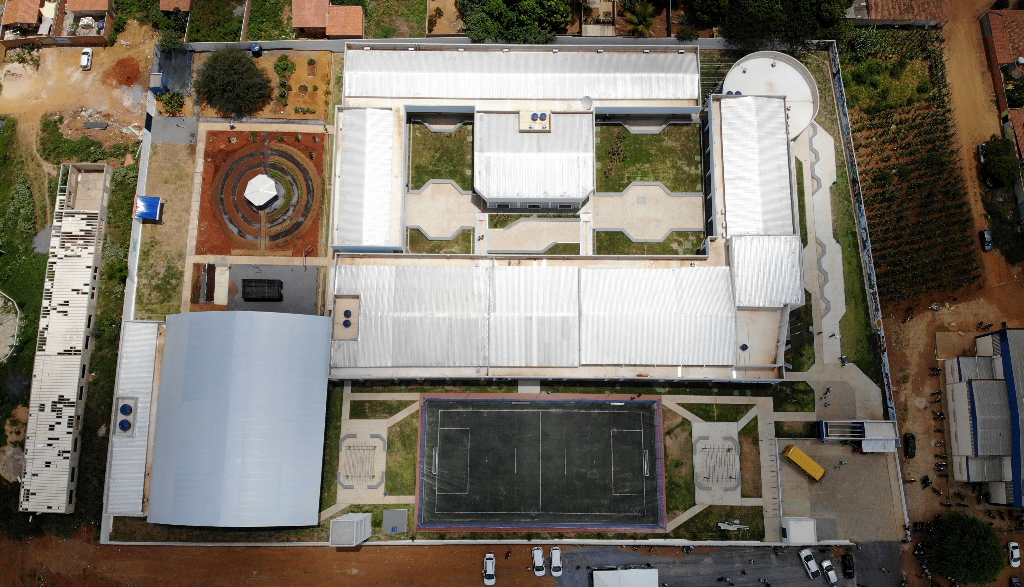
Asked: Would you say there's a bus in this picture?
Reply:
Yes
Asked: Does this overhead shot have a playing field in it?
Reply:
Yes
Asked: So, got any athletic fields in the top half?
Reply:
No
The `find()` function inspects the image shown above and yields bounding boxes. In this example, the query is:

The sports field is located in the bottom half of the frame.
[424,403,659,525]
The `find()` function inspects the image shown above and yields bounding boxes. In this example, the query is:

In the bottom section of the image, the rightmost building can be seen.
[934,328,1024,508]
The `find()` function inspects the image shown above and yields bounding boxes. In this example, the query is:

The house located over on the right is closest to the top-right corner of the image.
[981,12,1024,70]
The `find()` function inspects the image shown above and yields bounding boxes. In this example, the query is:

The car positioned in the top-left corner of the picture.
[79,49,96,70]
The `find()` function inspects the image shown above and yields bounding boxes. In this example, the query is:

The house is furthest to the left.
[2,0,48,32]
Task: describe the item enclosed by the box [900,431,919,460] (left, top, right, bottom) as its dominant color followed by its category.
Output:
black car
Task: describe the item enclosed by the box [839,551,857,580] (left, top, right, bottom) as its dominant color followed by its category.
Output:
black car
